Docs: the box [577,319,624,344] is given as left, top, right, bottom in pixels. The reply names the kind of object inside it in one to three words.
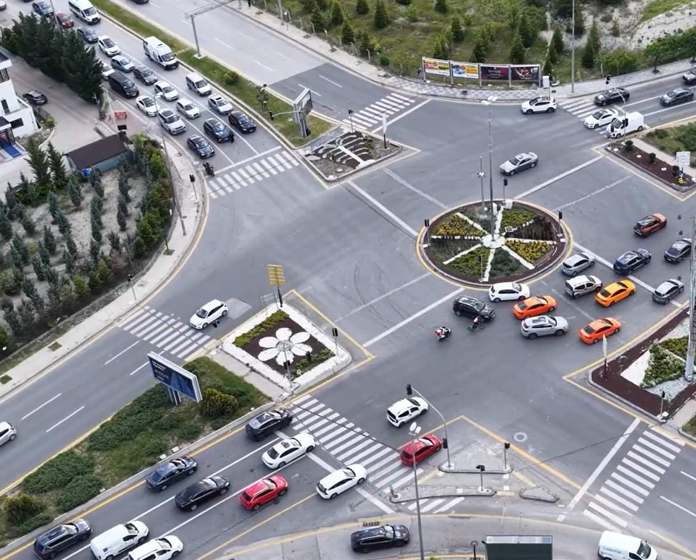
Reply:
car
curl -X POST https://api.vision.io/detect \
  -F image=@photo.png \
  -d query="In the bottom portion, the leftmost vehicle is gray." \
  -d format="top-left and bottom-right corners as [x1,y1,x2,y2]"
[0,424,21,449]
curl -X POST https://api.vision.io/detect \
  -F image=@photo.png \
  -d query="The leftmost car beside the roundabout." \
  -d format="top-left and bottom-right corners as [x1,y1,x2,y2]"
[451,294,496,322]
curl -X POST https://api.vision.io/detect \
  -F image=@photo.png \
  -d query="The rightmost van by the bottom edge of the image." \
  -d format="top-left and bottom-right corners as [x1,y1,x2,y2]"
[596,529,659,560]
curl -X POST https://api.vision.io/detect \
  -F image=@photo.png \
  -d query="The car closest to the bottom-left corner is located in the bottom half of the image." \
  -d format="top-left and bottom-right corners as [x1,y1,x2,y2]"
[31,519,96,560]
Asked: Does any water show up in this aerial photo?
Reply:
No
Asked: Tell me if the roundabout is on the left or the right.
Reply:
right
